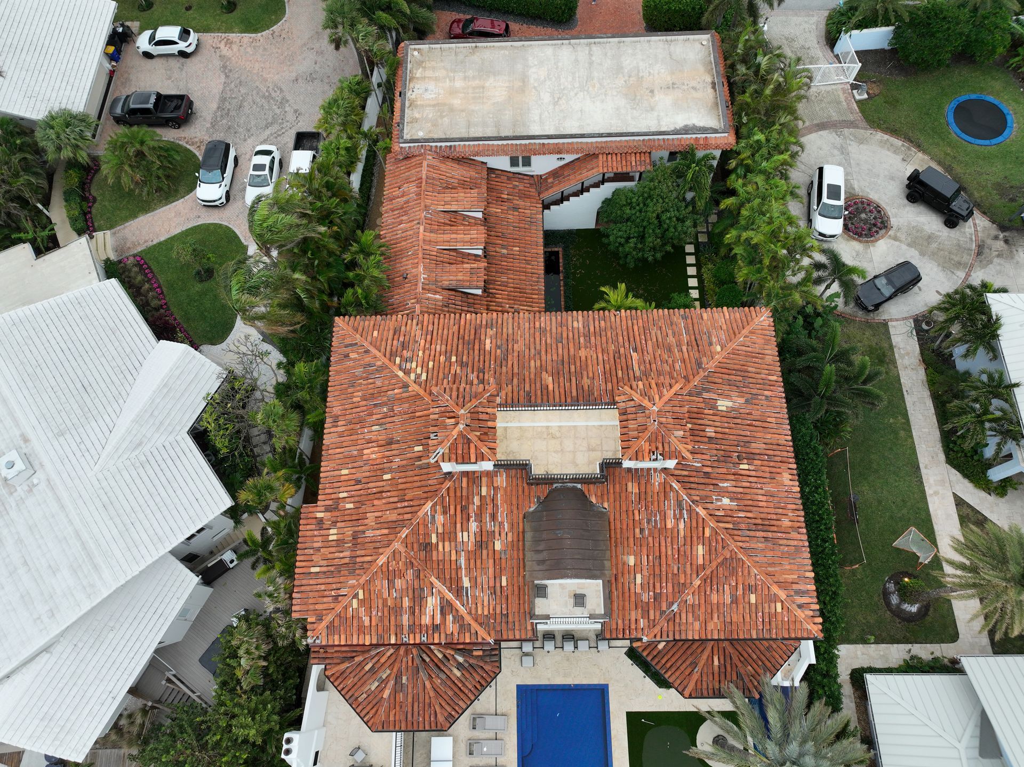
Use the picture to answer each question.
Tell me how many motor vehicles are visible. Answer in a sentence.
In total, there are 9 motor vehicles in the scene.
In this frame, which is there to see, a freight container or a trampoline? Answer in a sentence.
Looking from above, you can make out a trampoline.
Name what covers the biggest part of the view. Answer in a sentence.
The largest share of the image is taken up by buildings.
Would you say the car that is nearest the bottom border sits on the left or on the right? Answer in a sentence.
You can find the car that is nearest the bottom border on the right side of the picture.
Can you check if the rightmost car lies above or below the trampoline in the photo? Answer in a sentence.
As seen from overhead, the rightmost car falls below the trampoline in the picture.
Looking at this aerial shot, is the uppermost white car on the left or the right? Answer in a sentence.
The uppermost white car sits on the left side.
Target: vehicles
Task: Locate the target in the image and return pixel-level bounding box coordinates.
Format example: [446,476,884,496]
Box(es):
[135,28,203,64]
[851,254,932,318]
[110,91,194,129]
[448,14,513,39]
[281,132,324,198]
[808,159,851,243]
[244,146,286,212]
[195,139,240,208]
[901,165,977,230]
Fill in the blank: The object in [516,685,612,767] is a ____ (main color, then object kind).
blue swimming pool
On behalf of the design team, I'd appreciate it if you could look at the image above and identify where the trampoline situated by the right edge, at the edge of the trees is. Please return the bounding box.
[944,91,1017,147]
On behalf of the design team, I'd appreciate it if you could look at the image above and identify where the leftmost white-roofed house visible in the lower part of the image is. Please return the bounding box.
[0,235,244,764]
